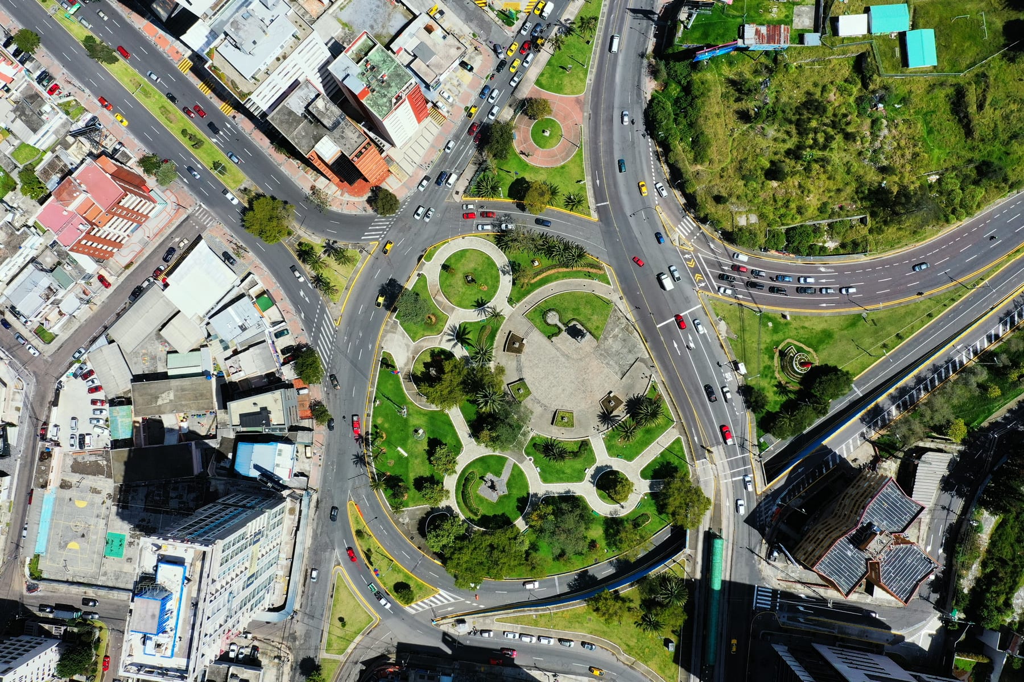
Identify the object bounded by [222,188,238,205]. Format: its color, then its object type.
white vehicle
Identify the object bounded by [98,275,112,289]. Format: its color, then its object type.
red car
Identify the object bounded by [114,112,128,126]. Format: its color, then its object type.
yellow car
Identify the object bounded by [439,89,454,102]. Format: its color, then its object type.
white vehicle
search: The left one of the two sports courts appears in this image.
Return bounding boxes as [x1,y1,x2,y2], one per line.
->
[39,451,112,579]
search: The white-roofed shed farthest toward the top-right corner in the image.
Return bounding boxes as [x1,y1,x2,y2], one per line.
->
[835,13,868,39]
